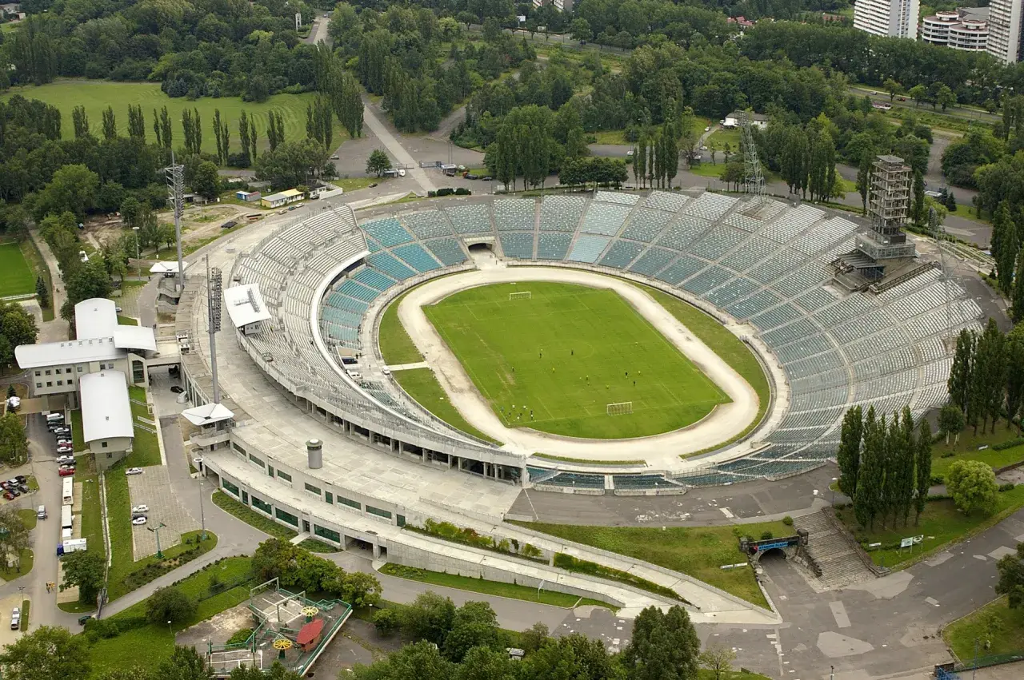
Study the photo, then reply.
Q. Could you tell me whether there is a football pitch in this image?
Yes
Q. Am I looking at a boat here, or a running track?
running track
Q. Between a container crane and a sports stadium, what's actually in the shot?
sports stadium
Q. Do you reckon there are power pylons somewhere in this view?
Yes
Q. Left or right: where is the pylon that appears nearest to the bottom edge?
right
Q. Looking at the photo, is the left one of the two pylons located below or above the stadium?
above it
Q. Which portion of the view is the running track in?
center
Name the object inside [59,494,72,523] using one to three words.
vehicle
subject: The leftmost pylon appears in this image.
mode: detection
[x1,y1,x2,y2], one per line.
[737,99,765,199]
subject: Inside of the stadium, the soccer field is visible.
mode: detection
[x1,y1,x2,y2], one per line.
[421,281,732,438]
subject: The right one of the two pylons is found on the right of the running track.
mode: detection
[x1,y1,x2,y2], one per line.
[932,194,962,300]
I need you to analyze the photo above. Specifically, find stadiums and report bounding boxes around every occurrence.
[318,193,986,494]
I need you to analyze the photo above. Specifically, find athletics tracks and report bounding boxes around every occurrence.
[398,268,759,462]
